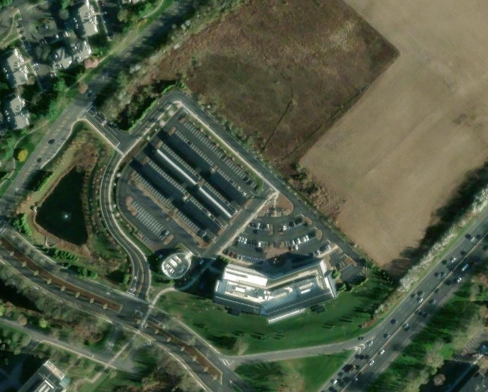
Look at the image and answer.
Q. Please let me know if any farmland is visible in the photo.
Yes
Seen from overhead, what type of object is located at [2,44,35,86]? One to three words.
house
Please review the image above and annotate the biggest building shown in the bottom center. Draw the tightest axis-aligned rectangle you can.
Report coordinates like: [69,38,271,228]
[212,256,341,323]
